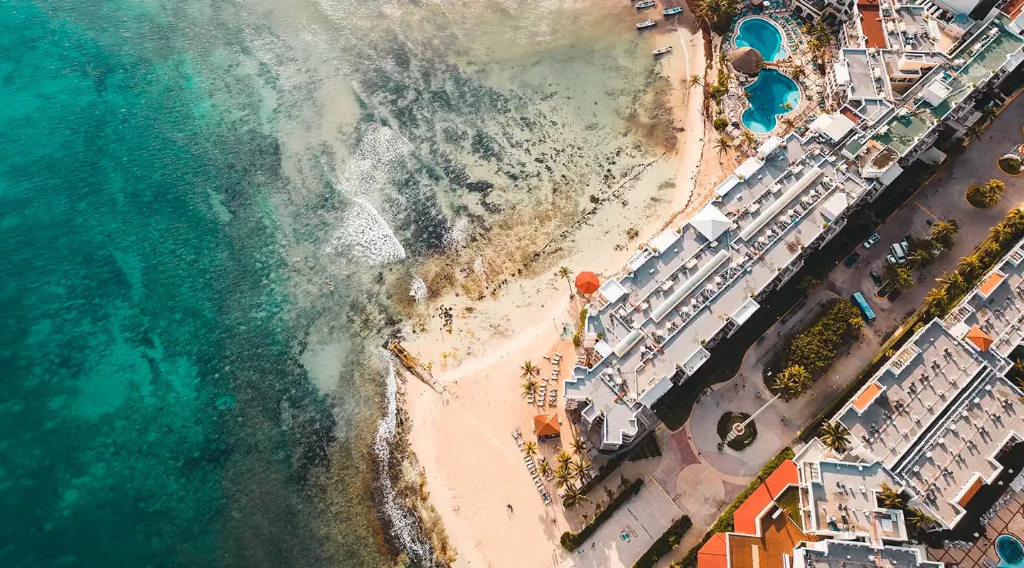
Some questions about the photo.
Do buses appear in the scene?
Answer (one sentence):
Yes, a bus can be made out from above.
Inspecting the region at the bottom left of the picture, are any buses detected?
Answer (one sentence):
No, at the bottom left of the picture there is no bus.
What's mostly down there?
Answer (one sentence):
The bulk of the photo consists of water.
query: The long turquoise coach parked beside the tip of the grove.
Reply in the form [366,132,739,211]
[851,286,883,323]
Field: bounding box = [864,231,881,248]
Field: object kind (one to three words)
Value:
vehicle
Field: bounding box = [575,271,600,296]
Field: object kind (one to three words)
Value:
gazebo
